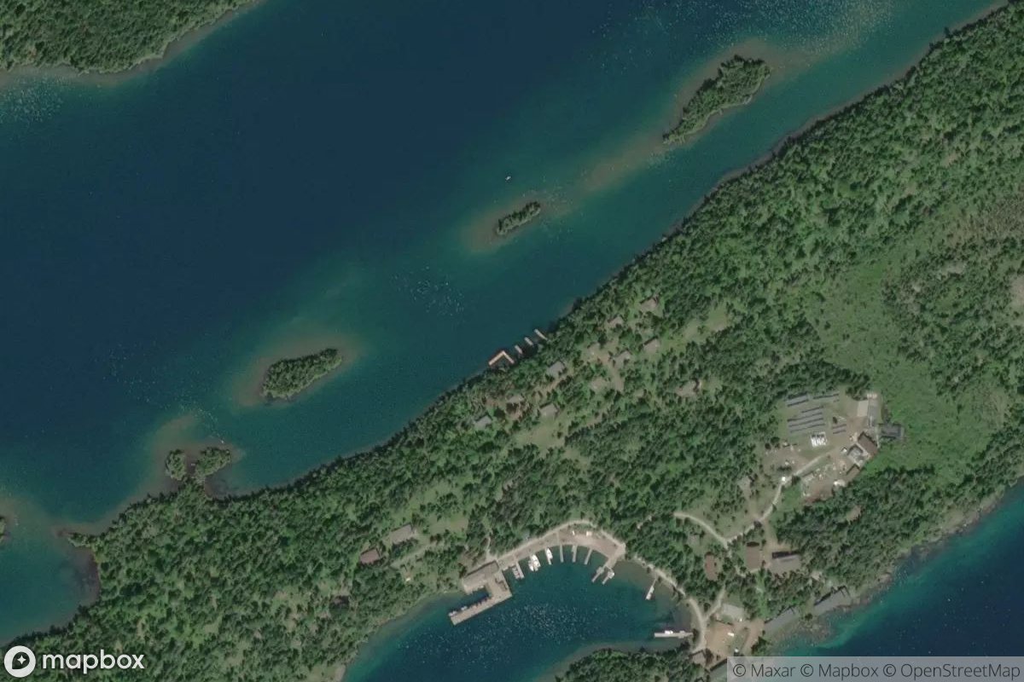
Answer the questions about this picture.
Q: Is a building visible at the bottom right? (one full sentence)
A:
Yes, a building is visible at the bottom right.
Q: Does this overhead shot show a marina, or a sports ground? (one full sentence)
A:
The area seen from above is a marina.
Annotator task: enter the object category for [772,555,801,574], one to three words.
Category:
building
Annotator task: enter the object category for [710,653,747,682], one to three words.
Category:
building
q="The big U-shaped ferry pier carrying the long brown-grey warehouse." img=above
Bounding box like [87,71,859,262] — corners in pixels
[450,567,512,625]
